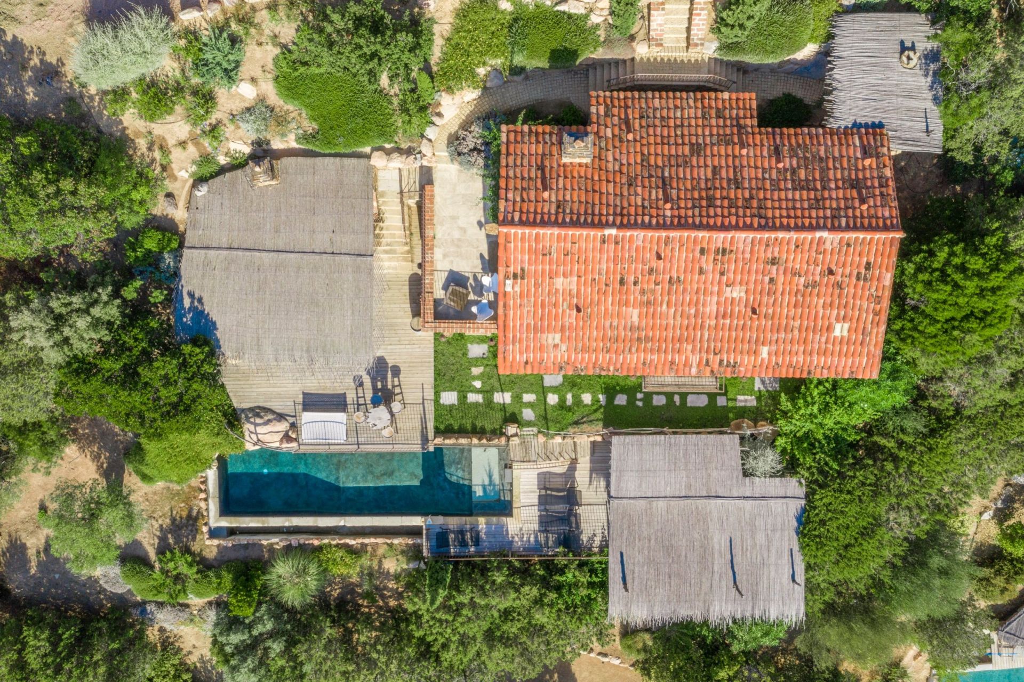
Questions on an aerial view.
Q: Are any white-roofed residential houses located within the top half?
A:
No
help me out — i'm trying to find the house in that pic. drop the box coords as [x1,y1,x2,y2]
[496,88,907,382]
